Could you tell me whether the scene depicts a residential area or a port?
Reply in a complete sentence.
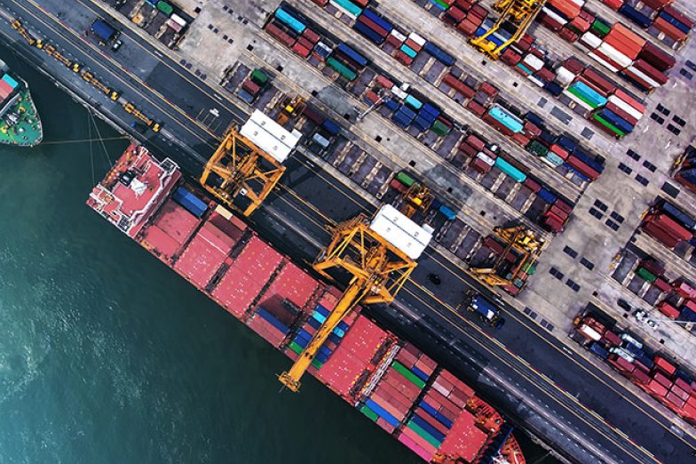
This looks like a port.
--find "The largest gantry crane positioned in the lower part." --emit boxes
[276,196,440,397]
